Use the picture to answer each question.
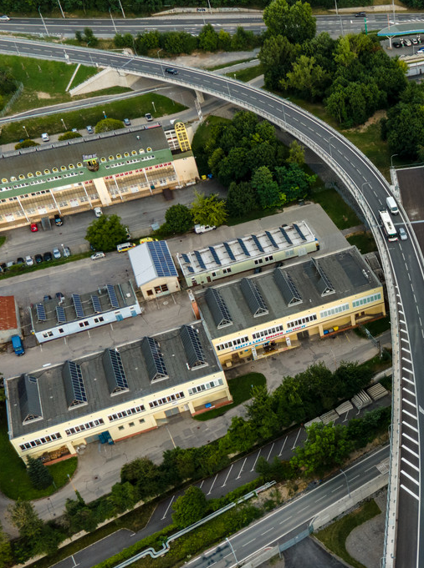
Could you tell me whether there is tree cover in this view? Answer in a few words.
Yes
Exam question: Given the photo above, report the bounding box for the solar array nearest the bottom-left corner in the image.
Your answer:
[71,361,87,402]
